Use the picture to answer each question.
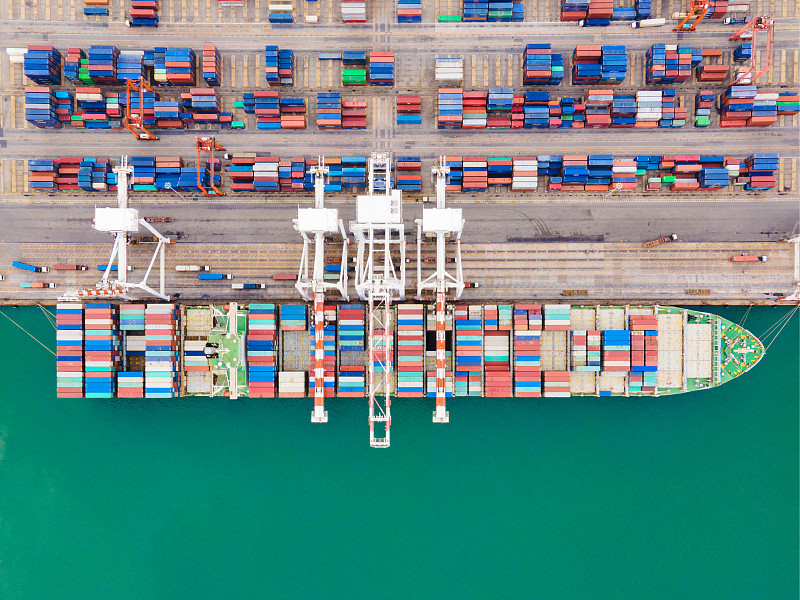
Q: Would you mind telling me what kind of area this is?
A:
port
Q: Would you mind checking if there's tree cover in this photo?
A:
No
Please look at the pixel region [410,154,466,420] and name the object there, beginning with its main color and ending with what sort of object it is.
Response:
white container crane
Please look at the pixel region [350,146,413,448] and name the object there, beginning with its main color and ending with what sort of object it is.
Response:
white container crane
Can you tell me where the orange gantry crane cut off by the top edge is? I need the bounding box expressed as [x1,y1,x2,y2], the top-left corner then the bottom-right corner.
[673,0,712,32]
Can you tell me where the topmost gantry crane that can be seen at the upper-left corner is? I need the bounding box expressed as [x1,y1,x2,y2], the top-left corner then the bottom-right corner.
[123,73,160,140]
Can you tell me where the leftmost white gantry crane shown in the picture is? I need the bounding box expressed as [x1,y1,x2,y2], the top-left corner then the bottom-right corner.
[47,154,179,299]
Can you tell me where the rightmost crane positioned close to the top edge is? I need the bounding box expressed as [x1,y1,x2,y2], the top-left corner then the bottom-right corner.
[730,14,773,85]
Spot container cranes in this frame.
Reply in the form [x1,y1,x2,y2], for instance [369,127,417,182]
[730,14,773,85]
[350,146,413,448]
[47,154,179,299]
[194,133,227,195]
[294,154,354,420]
[410,154,466,420]
[123,73,160,140]
[673,0,712,32]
